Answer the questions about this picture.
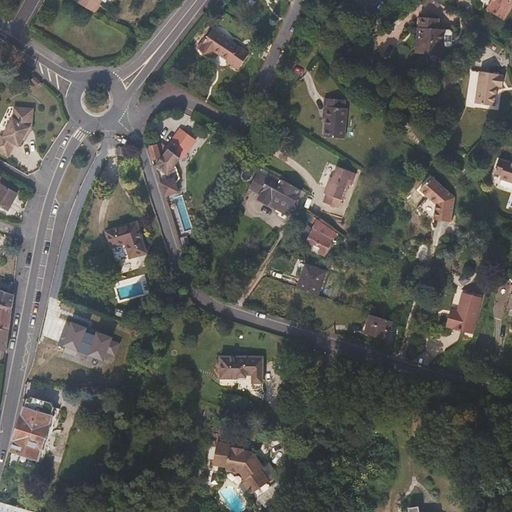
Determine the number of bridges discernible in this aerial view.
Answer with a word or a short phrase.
zero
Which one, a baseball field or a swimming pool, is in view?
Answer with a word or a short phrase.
swimming pool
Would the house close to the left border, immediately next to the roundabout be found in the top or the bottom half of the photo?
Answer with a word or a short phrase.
top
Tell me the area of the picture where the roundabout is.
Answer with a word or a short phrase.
top left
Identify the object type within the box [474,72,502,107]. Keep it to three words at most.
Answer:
house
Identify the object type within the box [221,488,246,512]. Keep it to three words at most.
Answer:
swimming pool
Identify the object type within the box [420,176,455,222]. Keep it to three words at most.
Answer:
house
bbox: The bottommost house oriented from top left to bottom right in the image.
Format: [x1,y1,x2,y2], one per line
[213,442,271,495]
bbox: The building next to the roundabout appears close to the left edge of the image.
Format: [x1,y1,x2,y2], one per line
[0,107,34,162]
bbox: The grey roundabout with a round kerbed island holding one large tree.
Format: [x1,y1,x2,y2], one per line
[65,69,134,134]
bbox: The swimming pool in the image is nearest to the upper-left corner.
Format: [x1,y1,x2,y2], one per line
[168,193,193,236]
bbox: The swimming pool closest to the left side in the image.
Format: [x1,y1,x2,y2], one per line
[114,274,149,303]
